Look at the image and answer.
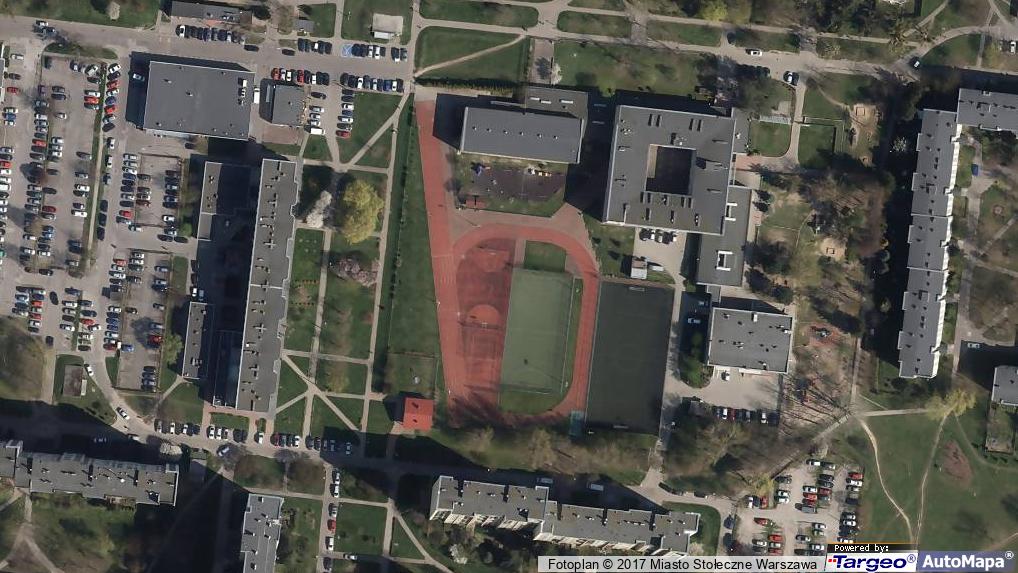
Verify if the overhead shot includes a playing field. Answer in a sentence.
Yes, I can see a playing field in this picture.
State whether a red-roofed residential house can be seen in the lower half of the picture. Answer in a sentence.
Yes, a red-roofed residential house is visible in the lower half of the picture.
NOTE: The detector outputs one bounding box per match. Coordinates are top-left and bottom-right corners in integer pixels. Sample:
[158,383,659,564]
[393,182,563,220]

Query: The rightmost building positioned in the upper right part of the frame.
[955,88,1018,138]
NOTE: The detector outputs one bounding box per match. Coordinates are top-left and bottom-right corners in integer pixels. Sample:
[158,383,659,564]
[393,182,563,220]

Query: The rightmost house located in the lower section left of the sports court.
[402,398,434,432]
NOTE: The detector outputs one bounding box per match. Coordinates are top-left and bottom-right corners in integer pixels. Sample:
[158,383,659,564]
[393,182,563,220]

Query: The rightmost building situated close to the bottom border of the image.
[543,501,700,564]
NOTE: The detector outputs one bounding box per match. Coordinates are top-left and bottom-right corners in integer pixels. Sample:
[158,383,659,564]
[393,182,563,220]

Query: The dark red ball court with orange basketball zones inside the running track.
[456,239,517,412]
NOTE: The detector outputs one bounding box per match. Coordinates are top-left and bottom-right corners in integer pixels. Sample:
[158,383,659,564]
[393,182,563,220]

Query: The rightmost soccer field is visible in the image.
[587,281,674,435]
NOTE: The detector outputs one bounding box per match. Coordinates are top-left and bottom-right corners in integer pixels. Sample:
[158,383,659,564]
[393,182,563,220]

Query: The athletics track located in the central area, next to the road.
[415,98,598,434]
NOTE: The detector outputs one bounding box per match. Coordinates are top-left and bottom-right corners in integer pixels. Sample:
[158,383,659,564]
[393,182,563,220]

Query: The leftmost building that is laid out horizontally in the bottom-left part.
[0,441,185,513]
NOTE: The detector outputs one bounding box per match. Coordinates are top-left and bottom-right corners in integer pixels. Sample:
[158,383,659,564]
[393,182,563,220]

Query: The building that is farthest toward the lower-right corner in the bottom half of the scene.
[987,367,1018,411]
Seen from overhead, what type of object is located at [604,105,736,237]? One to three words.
building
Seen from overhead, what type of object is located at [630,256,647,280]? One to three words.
shed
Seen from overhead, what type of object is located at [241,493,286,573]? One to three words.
building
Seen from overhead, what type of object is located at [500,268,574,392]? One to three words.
sports field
